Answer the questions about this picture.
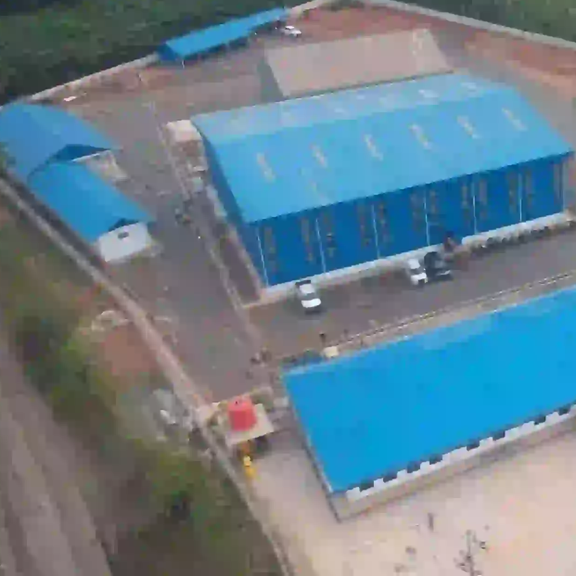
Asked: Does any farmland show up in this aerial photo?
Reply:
No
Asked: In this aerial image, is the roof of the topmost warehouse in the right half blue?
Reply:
Yes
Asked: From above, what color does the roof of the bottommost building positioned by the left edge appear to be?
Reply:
blue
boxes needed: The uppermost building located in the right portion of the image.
[191,73,576,298]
